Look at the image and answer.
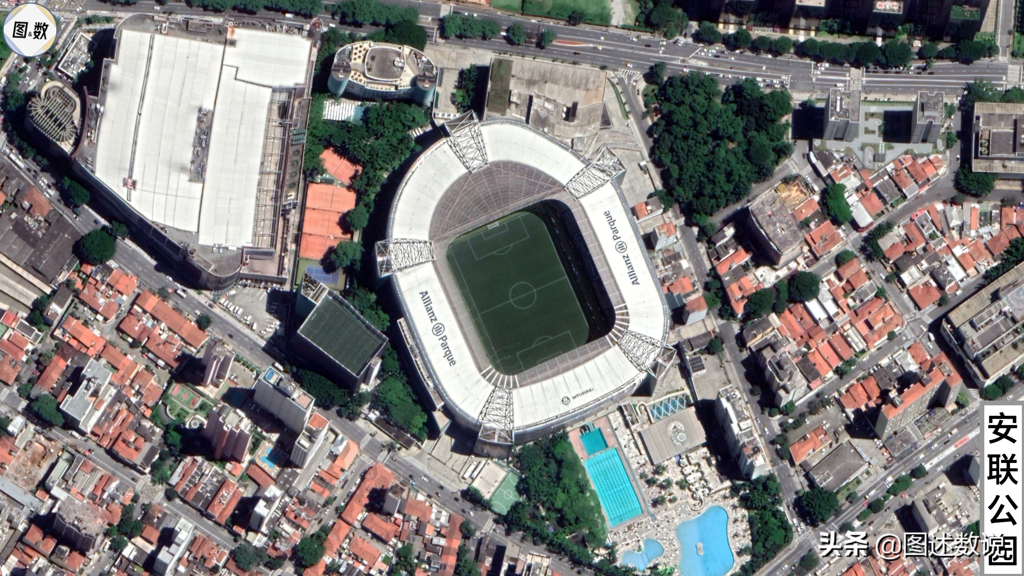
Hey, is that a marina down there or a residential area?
residential area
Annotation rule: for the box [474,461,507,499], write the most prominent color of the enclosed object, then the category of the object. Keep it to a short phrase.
white sports court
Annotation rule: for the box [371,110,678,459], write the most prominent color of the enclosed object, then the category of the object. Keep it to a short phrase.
white stadium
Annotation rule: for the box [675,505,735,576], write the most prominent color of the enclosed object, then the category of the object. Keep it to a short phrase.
blue swimming pool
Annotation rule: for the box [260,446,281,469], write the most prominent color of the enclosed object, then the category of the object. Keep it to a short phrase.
blue swimming pool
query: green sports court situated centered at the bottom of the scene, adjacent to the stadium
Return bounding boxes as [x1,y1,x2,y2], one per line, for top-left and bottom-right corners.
[491,472,516,516]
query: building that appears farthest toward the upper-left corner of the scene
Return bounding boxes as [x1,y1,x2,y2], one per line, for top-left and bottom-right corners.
[58,33,94,81]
